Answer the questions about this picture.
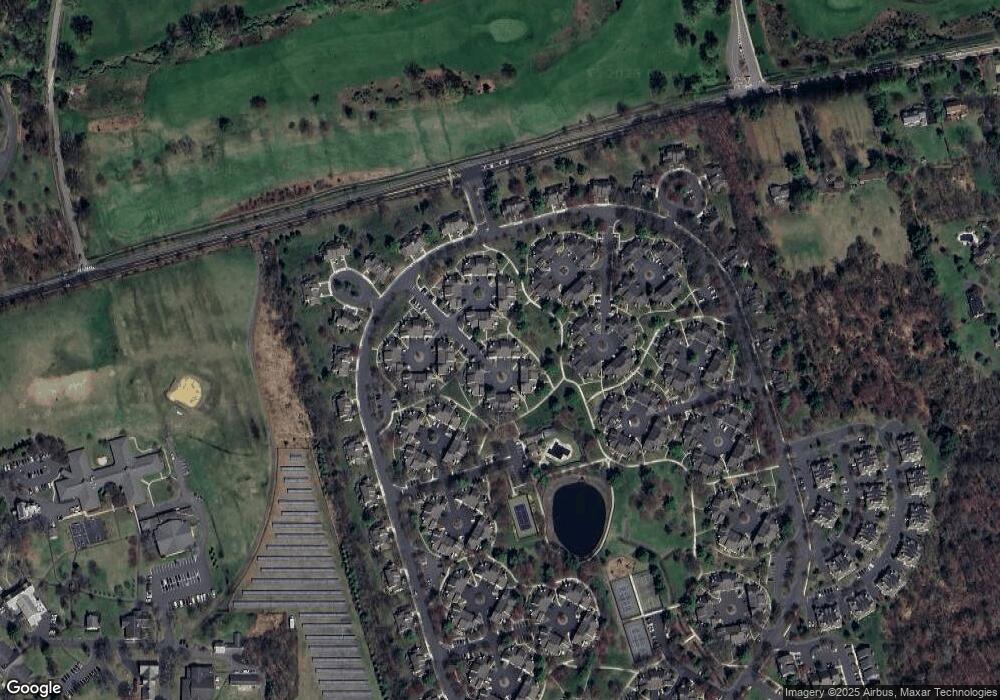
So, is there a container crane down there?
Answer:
No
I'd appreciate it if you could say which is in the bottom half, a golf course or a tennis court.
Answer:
tennis court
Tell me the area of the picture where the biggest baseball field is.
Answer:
left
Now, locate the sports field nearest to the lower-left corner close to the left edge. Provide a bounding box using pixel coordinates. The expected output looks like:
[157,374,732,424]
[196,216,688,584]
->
[24,368,98,408]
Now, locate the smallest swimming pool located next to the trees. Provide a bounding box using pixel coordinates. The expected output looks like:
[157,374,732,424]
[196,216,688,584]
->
[958,232,979,246]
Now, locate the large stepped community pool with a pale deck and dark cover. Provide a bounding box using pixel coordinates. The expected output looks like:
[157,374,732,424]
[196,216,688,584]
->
[544,437,574,463]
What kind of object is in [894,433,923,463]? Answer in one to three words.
building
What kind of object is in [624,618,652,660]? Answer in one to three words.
tennis court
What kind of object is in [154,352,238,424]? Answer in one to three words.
baseball field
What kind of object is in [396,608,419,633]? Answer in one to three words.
house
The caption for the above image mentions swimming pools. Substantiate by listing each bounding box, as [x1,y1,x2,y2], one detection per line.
[544,437,574,463]
[958,232,979,246]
